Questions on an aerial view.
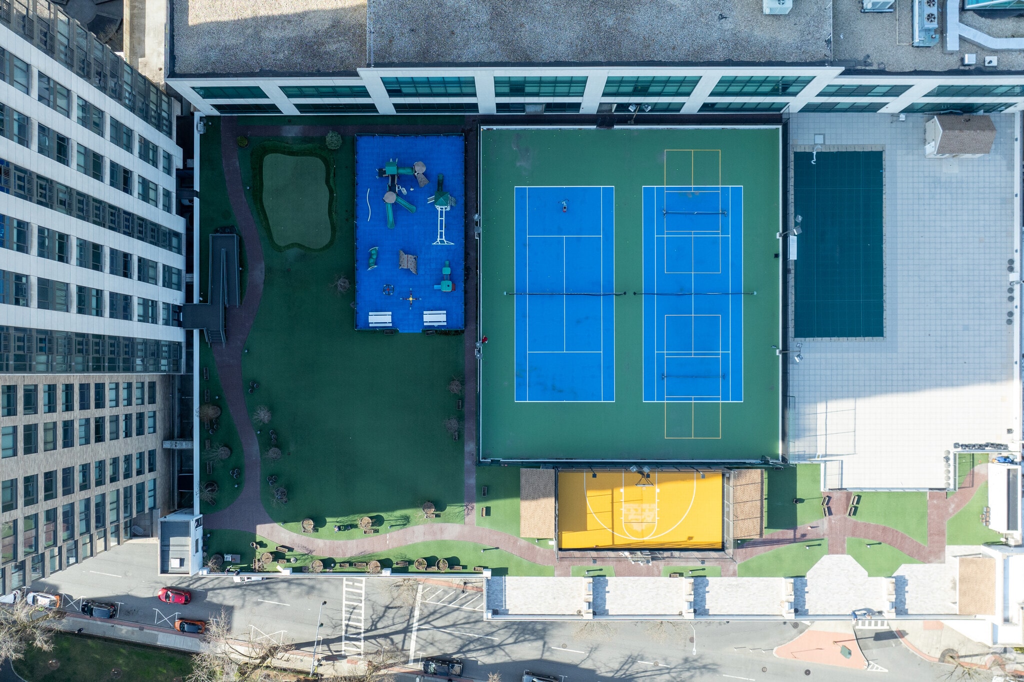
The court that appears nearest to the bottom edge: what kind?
basketball court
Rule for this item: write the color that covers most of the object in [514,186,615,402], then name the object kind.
blue tennis court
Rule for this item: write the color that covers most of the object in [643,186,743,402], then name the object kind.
blue tennis court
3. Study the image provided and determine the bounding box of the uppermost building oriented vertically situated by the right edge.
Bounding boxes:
[989,464,1024,543]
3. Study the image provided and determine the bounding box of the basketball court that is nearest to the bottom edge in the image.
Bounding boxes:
[556,465,726,551]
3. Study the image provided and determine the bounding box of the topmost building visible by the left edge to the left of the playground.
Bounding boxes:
[0,0,194,375]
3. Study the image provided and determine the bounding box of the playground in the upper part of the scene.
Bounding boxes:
[356,136,464,333]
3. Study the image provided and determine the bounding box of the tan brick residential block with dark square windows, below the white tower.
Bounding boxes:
[0,375,172,598]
